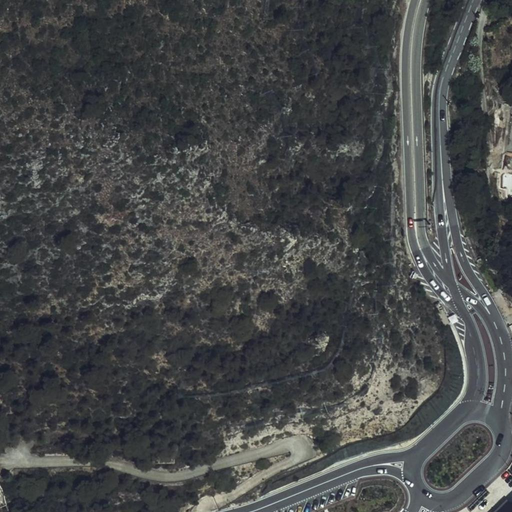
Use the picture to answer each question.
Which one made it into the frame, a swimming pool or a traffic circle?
traffic circle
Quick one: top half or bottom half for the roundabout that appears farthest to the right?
bottom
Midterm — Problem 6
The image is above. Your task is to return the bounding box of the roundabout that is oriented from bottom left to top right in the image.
[422,421,494,492]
